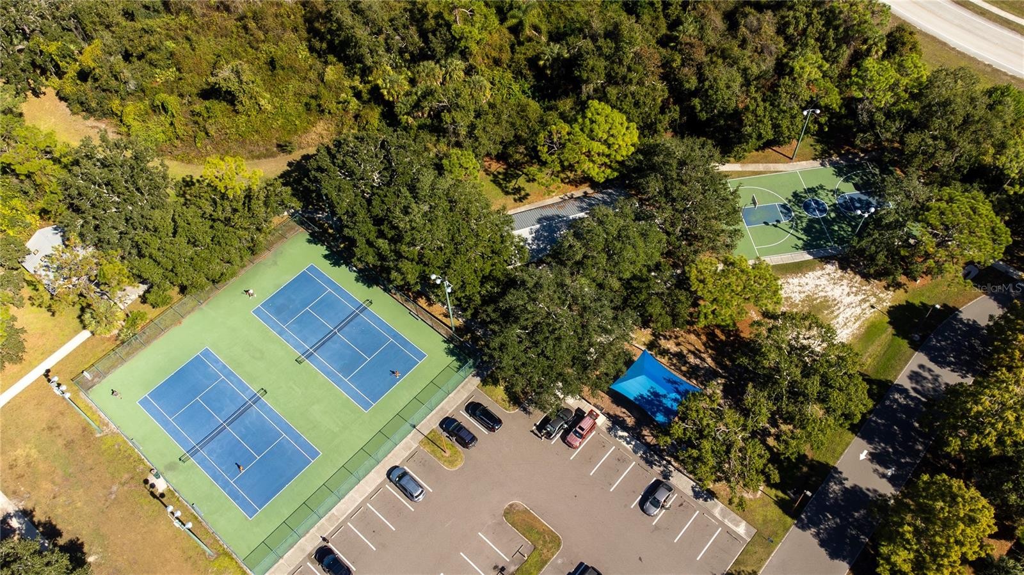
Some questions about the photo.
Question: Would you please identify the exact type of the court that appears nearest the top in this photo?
basketball court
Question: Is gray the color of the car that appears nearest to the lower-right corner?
Yes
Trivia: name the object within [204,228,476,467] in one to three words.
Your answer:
tennis court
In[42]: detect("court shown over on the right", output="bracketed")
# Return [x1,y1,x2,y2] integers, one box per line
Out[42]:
[707,158,929,262]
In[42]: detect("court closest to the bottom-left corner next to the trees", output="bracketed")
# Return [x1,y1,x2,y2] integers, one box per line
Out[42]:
[87,305,382,575]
